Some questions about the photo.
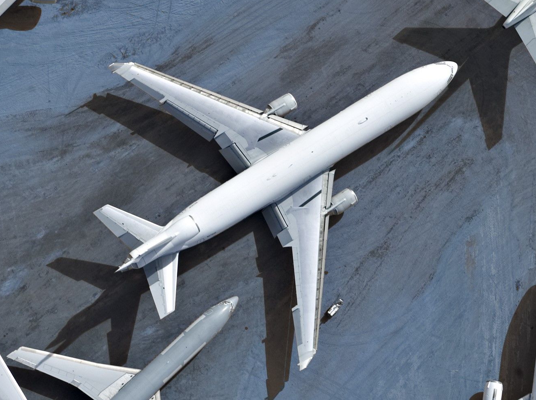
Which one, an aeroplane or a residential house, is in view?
aeroplane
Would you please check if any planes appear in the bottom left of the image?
Yes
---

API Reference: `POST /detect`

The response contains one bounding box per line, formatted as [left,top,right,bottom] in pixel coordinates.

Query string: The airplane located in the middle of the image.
[94,62,457,373]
